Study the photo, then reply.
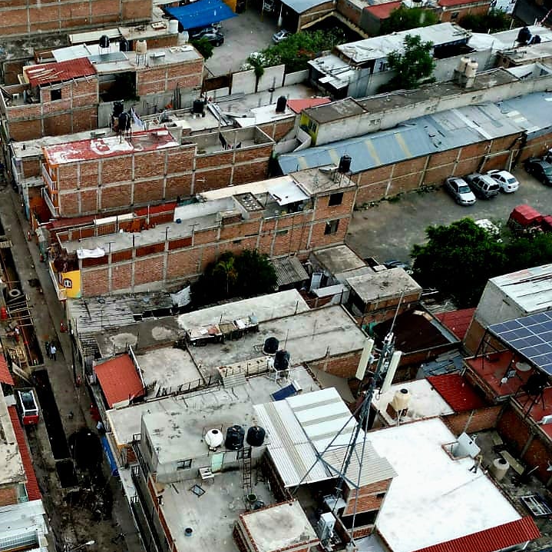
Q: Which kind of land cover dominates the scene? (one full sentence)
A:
The bulk of the photo consists of buildings.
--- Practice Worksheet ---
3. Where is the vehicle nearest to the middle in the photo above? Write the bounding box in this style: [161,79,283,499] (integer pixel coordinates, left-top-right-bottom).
[374,254,421,280]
